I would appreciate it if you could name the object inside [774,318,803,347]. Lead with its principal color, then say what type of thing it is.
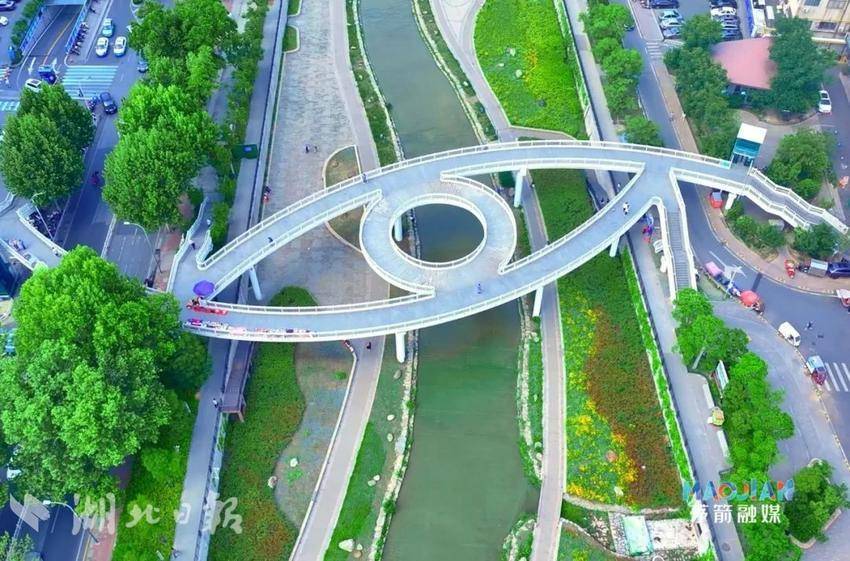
white vehicle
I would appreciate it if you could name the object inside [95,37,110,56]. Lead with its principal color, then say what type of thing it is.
white car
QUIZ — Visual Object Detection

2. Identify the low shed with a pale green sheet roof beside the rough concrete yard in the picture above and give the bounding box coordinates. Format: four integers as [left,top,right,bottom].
[623,515,652,553]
